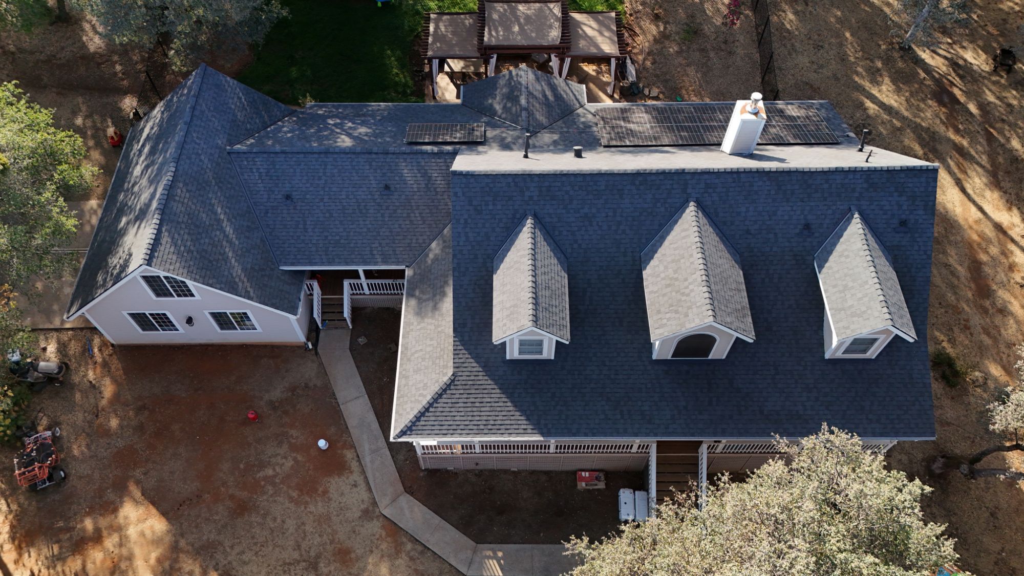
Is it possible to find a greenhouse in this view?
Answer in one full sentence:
No, there's no greenhouse here.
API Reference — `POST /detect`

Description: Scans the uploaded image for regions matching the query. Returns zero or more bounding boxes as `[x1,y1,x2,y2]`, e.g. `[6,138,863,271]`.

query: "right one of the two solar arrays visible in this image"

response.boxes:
[591,104,846,146]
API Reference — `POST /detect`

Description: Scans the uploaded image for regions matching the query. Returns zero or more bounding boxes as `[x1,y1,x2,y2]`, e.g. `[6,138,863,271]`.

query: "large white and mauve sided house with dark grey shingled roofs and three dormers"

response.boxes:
[61,63,939,524]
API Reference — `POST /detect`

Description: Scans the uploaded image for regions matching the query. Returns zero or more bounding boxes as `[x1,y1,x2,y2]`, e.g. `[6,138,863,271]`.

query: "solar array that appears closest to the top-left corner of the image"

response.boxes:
[403,120,486,143]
